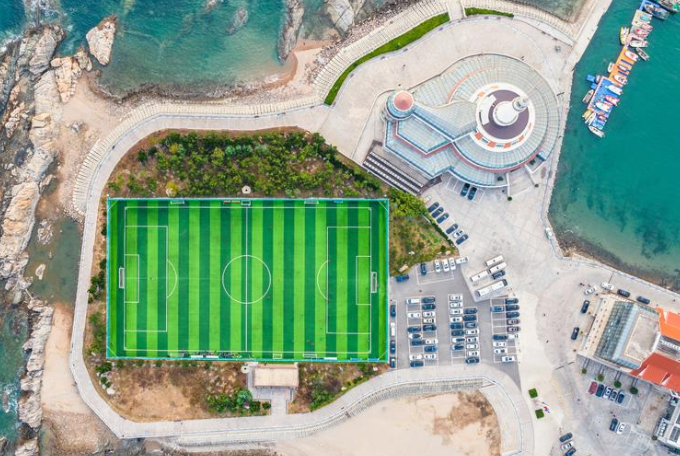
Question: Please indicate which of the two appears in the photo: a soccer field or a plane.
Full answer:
There is a soccer field in the scene.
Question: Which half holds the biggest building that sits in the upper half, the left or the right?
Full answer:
It is on the right.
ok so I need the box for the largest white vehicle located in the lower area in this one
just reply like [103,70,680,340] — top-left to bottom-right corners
[474,279,507,296]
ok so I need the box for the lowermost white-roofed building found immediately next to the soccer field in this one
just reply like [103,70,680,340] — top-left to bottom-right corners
[249,362,299,417]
